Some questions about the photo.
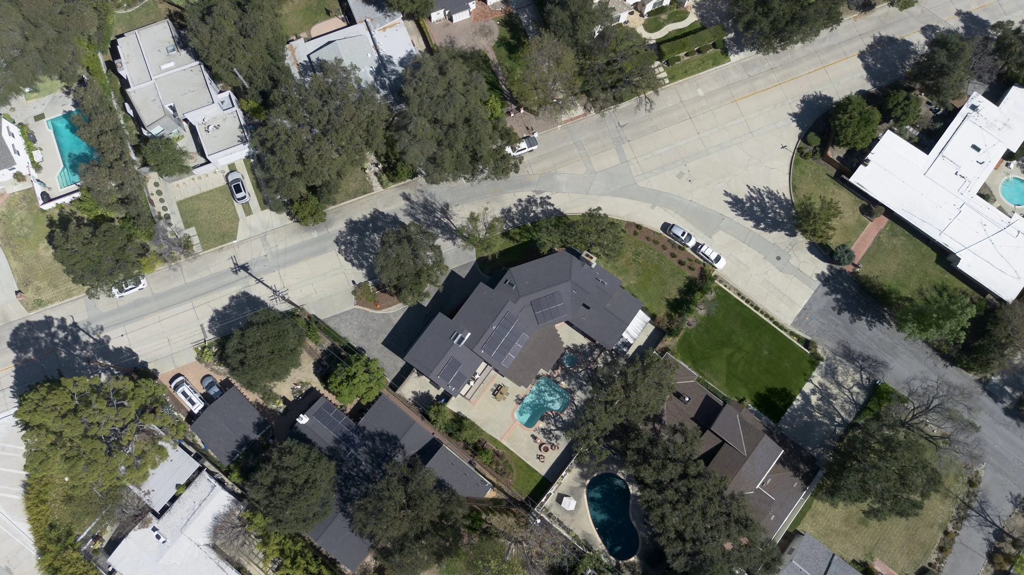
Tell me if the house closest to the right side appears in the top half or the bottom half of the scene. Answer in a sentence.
It is in the top half that the house closest to the right side appears.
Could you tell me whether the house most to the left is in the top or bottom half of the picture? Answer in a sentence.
The house most to the left is in the top half of the image.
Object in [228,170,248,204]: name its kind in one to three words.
car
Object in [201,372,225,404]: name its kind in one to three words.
car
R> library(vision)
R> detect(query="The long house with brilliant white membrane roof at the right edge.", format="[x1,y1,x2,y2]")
[849,86,1024,303]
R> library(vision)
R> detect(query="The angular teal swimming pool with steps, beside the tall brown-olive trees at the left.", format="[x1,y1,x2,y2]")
[43,104,109,191]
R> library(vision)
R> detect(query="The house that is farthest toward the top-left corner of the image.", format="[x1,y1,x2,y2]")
[0,116,38,193]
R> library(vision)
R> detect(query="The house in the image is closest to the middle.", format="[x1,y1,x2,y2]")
[405,249,643,397]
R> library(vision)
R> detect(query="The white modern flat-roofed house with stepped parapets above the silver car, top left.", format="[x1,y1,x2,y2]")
[113,19,259,168]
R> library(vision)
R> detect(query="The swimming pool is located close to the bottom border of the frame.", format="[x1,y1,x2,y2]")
[584,470,642,562]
